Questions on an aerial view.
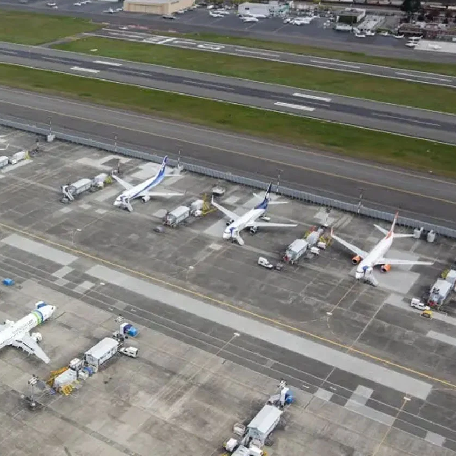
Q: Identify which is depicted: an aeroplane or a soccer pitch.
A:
aeroplane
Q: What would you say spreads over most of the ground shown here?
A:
paved ground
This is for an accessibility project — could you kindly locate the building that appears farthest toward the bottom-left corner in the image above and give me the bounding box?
[84,333,121,367]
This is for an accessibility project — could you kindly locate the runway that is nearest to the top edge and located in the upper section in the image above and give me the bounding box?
[85,28,456,85]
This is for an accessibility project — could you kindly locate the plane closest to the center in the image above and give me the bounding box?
[210,182,292,239]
